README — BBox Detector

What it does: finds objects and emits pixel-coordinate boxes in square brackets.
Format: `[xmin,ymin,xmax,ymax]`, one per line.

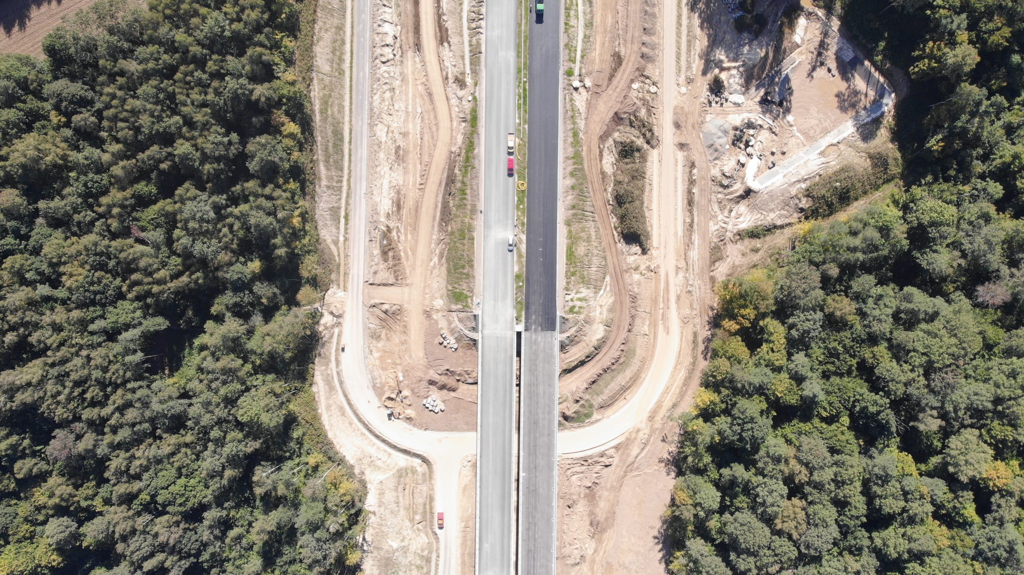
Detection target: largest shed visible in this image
[836,37,863,62]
